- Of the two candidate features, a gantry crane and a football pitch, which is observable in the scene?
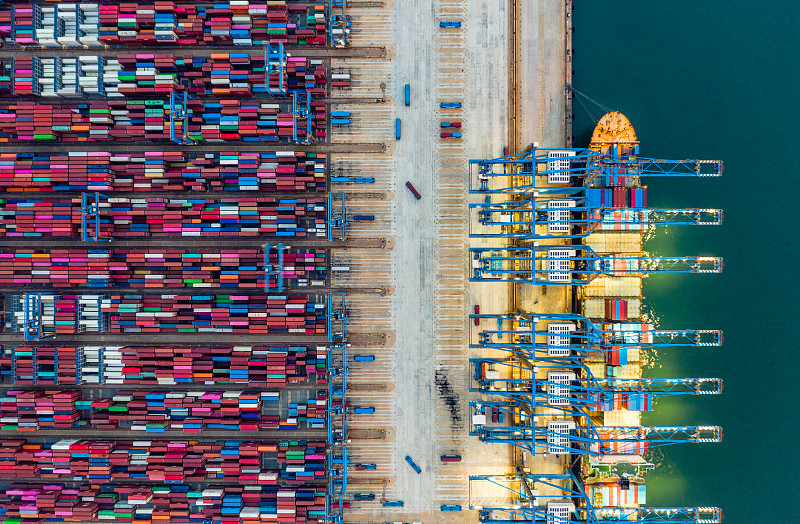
gantry crane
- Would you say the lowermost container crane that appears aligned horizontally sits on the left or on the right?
right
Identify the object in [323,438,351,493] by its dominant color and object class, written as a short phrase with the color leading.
blue crane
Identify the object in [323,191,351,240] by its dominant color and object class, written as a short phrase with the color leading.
blue crane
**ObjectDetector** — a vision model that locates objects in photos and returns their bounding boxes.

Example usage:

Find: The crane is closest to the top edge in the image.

[324,0,352,48]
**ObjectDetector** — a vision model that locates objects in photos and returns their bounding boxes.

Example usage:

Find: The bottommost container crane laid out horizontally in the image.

[470,462,724,524]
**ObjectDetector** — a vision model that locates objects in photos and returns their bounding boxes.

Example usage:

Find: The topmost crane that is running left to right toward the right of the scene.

[470,141,724,200]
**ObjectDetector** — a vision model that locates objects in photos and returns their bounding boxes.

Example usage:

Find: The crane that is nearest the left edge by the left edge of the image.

[17,291,60,340]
